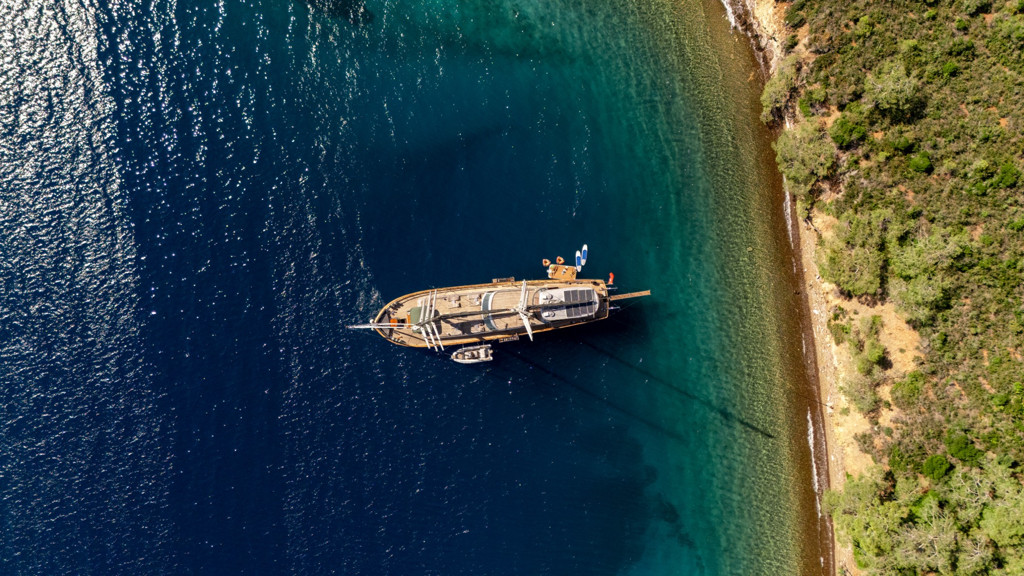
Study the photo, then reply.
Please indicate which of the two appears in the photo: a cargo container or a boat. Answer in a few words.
boat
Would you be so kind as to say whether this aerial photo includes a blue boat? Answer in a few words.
No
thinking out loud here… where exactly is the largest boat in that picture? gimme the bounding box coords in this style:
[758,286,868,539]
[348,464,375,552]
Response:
[350,277,651,351]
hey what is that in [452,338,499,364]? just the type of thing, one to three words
boat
